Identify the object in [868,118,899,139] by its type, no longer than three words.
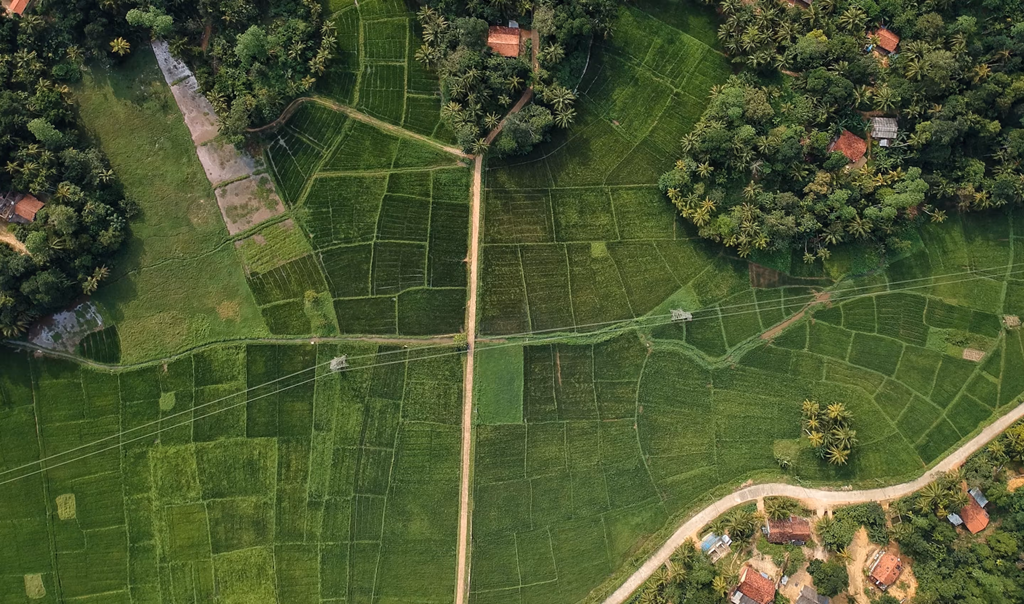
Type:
building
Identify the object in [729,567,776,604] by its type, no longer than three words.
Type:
house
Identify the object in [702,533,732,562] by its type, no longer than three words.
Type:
house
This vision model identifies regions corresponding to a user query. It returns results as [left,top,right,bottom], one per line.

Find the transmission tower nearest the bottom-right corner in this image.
[666,308,692,323]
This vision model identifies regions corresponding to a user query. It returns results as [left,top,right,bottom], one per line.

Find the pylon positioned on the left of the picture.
[328,353,355,372]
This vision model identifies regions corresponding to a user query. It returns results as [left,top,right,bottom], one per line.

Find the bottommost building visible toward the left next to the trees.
[0,190,49,225]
